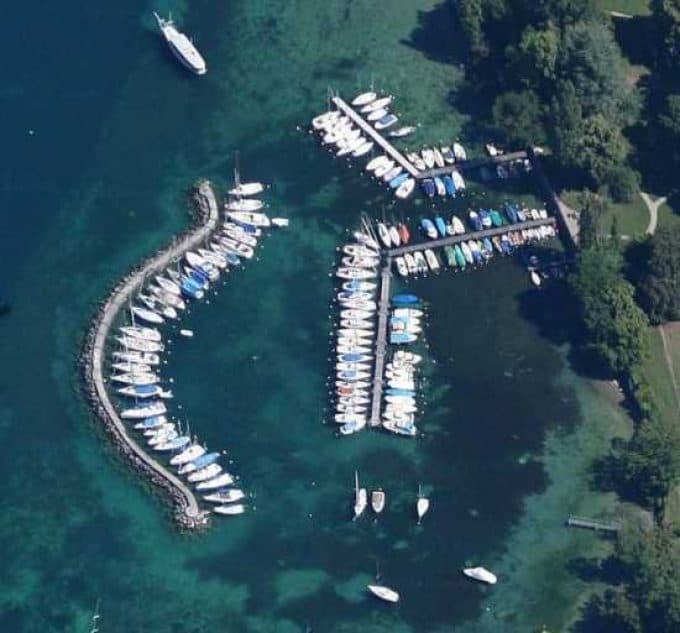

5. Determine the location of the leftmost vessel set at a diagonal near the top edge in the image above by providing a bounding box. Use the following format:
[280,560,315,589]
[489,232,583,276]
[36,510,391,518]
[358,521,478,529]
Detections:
[153,13,211,79]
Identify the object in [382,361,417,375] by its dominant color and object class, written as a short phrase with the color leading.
white boat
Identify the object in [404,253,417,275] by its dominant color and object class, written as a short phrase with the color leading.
white boat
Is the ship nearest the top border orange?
No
